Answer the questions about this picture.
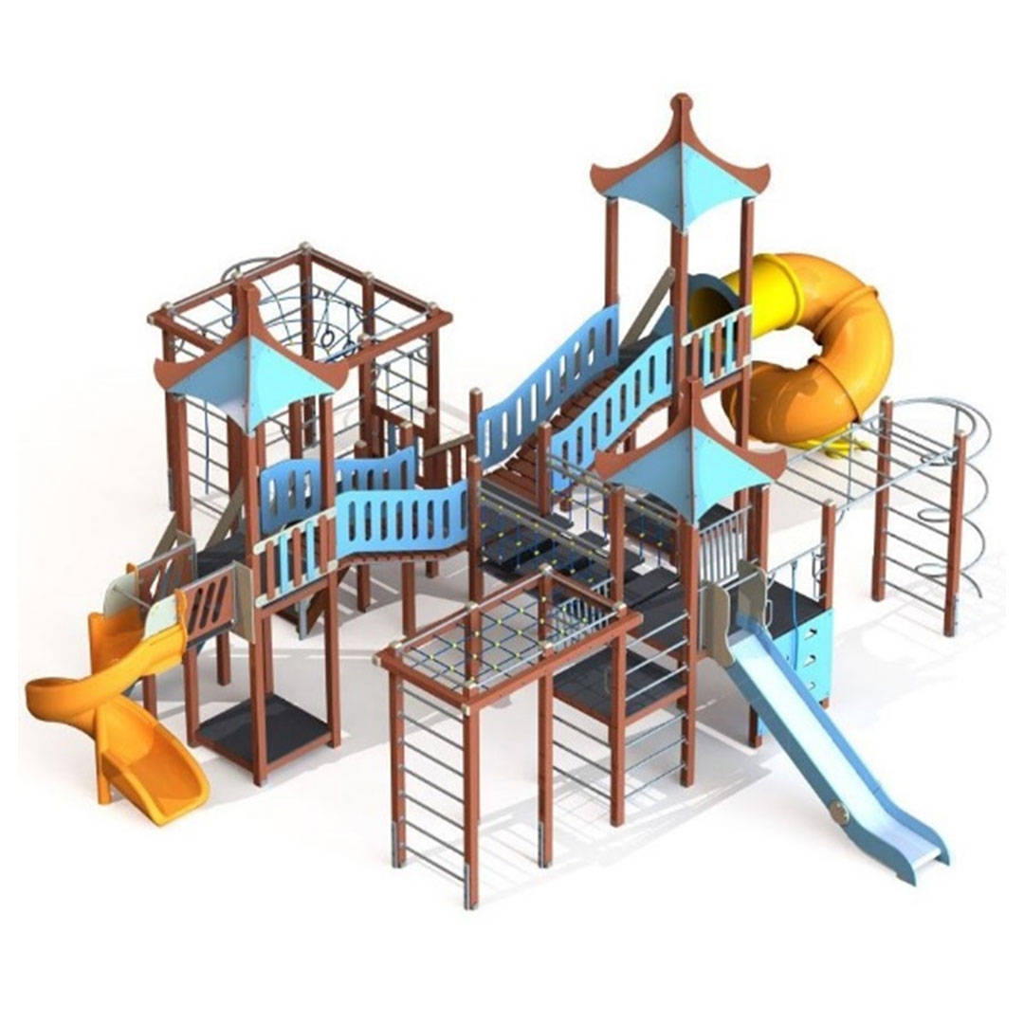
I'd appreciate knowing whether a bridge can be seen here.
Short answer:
Yes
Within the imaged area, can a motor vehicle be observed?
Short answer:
No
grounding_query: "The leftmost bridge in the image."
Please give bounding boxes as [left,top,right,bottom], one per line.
[266,444,471,576]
